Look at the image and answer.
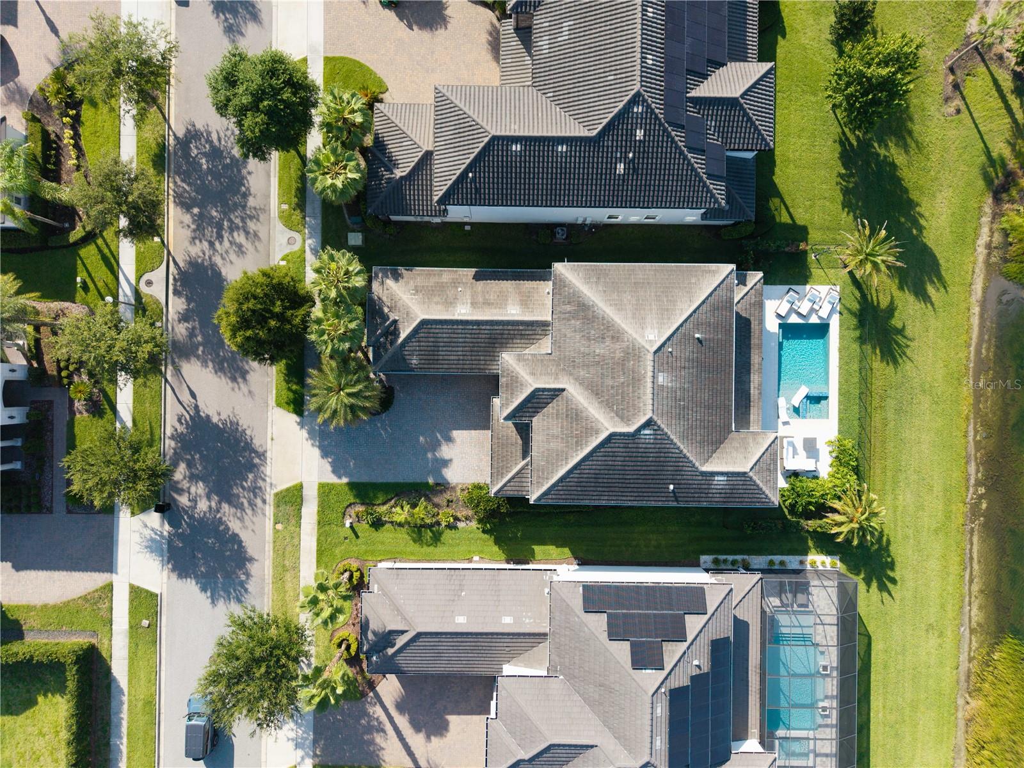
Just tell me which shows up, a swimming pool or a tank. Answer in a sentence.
Of the two, only a swimming pool appears.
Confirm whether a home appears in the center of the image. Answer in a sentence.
Yes, in the center of the image there is a home.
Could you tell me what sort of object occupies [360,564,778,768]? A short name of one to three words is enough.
house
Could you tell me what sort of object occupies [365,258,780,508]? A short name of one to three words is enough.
house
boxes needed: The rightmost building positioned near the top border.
[366,0,776,226]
